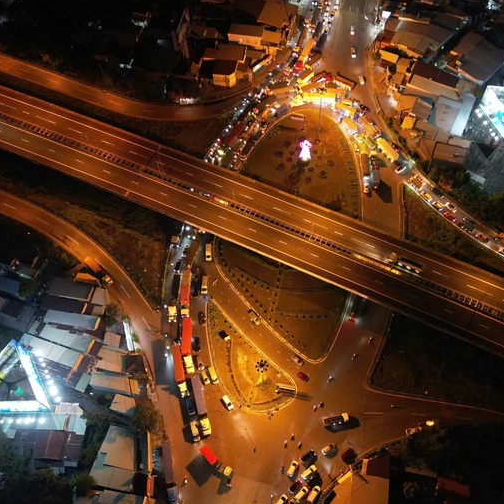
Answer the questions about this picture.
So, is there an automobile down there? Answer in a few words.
Yes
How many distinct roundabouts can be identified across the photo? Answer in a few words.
3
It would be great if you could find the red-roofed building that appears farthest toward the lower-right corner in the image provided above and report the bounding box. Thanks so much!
[433,474,472,500]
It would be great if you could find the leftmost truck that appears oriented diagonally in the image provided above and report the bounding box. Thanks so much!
[86,259,113,287]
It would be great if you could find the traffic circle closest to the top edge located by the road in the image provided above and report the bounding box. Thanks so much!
[238,107,365,221]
